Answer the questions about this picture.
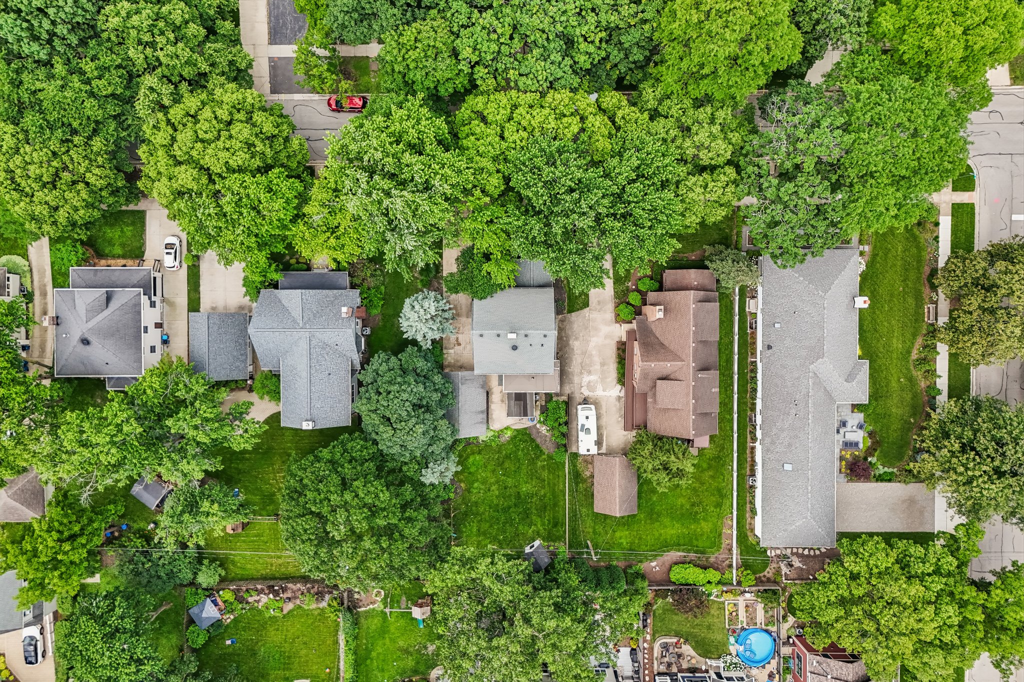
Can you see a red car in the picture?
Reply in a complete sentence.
Yes, a red car is visible in the scene.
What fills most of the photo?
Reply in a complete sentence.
What you mostly see from above here is trees.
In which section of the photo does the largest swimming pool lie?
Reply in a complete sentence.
The largest swimming pool appears toward the bottom right of the photo.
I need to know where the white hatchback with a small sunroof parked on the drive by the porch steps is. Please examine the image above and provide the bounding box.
[162,237,183,271]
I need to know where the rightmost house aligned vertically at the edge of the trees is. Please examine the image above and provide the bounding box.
[754,250,870,547]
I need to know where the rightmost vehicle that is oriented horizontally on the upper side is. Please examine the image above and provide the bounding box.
[329,97,367,115]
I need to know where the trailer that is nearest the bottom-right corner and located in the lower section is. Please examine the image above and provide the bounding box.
[577,395,599,457]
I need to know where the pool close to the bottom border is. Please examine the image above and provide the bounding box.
[731,627,780,668]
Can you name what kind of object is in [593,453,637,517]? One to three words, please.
shed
